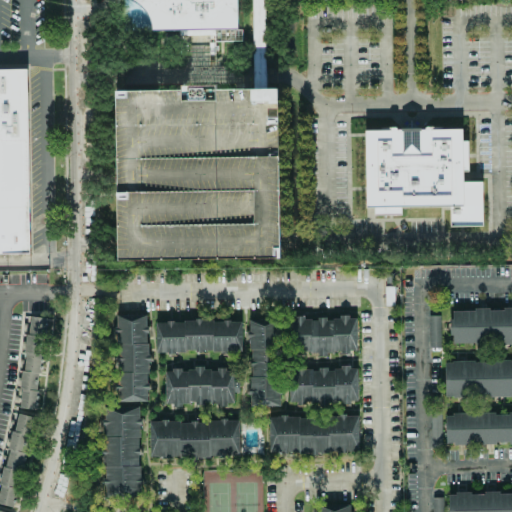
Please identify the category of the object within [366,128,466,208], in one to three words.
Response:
building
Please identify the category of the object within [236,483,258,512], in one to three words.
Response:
tennis court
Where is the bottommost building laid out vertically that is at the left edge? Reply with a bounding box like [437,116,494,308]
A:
[0,410,32,508]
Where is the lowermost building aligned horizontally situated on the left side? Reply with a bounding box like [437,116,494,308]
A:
[150,418,241,460]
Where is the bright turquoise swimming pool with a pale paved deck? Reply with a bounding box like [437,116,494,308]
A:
[241,425,264,452]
